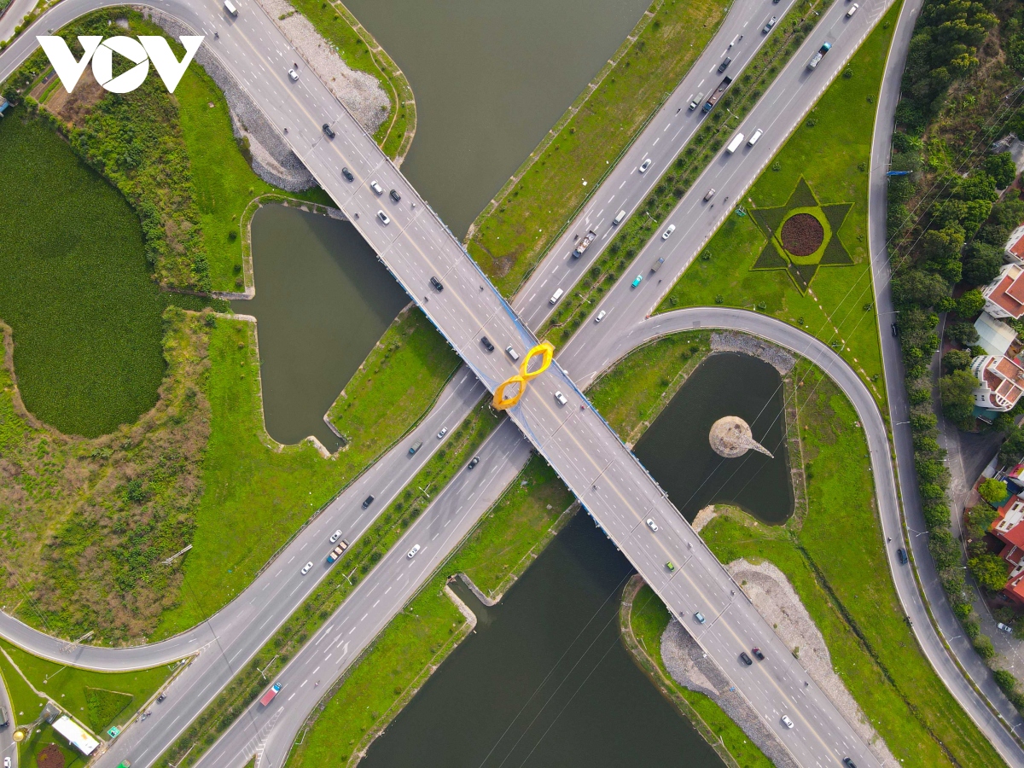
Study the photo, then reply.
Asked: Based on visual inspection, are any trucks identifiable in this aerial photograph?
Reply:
Yes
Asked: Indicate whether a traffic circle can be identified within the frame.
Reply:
No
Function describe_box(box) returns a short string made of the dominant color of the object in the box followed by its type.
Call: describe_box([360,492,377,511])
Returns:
gray vehicle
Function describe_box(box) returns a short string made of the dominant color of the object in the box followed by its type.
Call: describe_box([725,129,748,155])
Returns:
white truck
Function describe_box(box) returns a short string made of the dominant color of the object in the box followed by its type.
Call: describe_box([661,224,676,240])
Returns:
white car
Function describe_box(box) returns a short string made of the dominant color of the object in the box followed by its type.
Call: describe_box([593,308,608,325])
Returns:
white car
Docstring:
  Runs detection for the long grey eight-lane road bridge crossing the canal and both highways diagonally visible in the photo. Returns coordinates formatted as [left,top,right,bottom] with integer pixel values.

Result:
[201,0,884,768]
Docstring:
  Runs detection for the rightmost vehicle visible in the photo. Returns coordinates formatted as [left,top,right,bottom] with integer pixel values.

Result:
[995,621,1013,634]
